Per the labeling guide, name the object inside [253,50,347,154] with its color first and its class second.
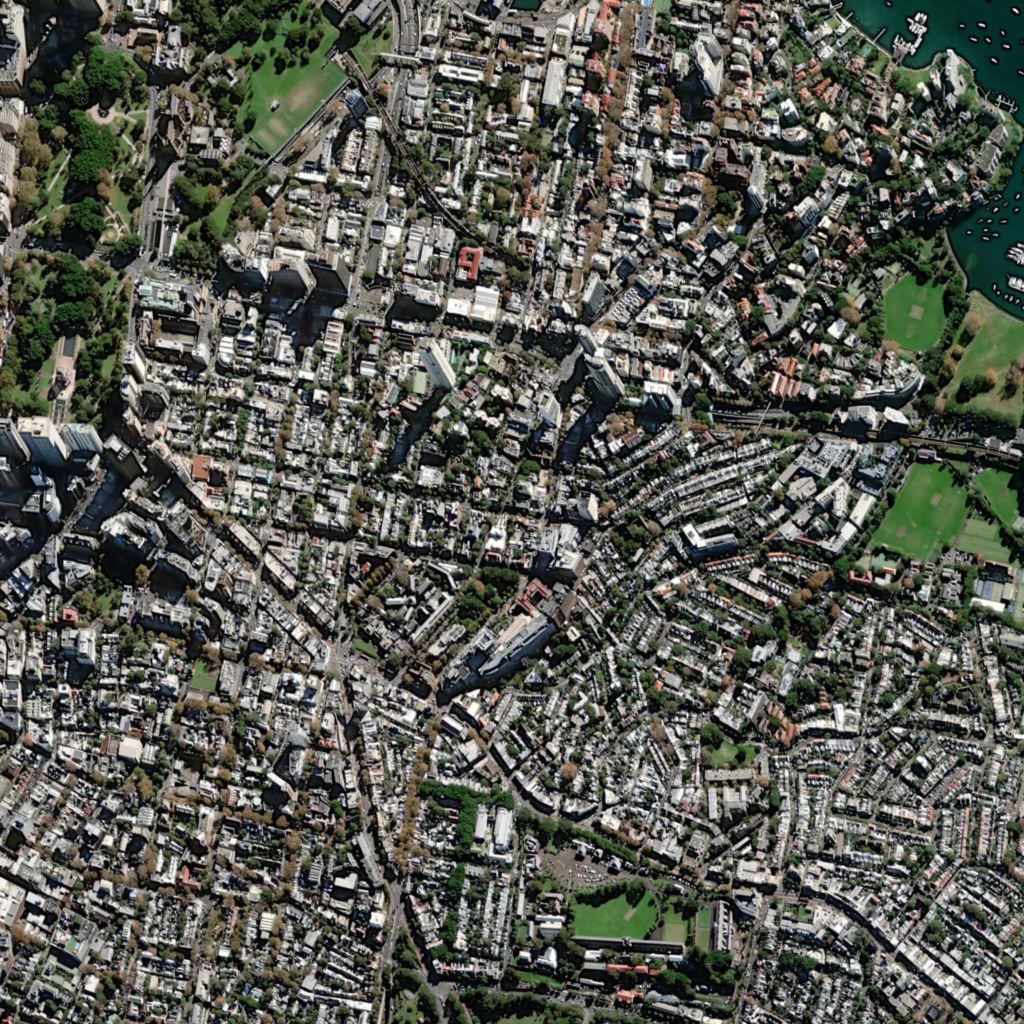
green sports field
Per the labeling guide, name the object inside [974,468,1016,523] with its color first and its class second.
green sports field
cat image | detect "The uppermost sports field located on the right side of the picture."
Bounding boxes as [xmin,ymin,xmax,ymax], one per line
[883,273,947,352]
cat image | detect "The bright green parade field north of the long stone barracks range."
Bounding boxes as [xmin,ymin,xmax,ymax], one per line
[575,886,659,939]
